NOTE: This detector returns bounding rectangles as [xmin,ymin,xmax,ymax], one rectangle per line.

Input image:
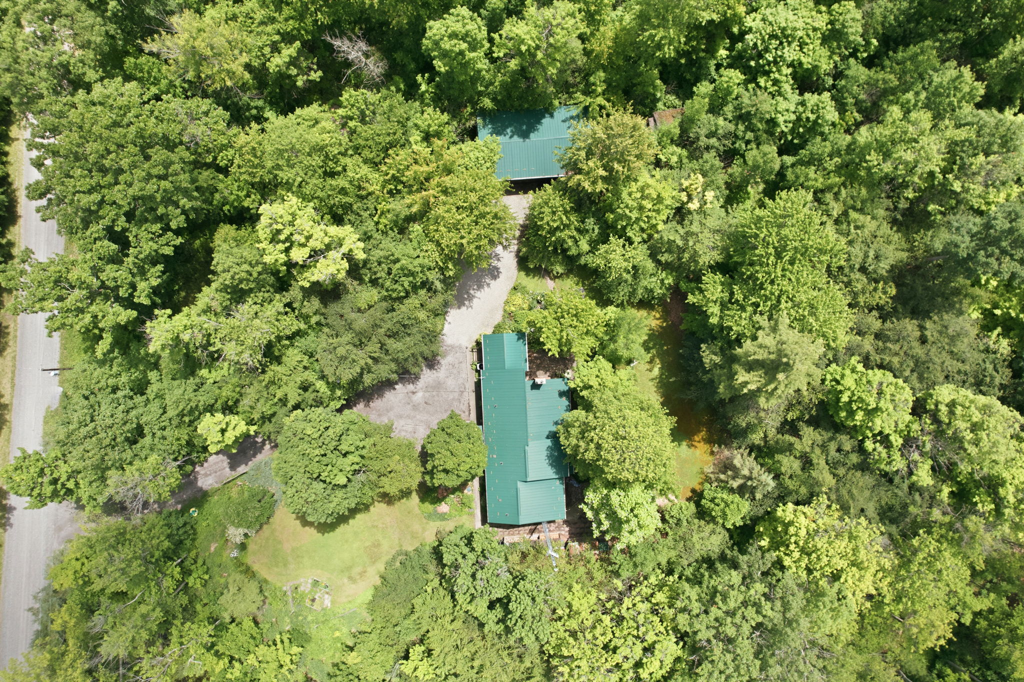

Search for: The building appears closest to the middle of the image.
[474,333,576,525]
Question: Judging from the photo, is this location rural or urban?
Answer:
rural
